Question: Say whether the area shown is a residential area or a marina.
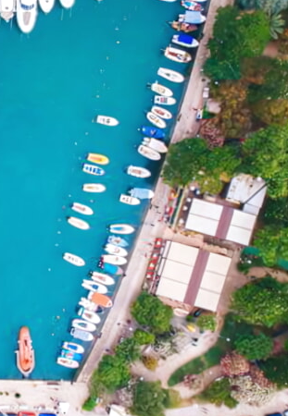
marina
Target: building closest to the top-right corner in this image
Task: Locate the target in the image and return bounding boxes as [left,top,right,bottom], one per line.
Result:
[219,177,265,214]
